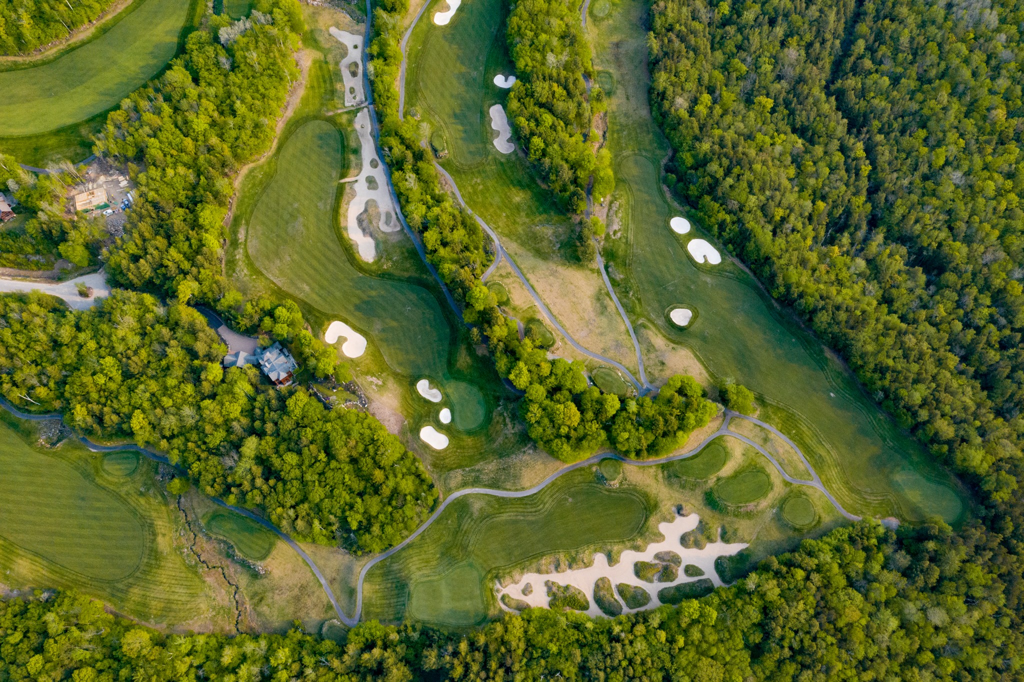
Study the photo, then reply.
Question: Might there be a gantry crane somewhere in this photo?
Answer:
No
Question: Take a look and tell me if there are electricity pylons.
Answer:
No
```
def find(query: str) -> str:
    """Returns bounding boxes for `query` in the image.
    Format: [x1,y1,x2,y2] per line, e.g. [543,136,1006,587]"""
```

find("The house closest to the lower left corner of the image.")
[222,341,300,388]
